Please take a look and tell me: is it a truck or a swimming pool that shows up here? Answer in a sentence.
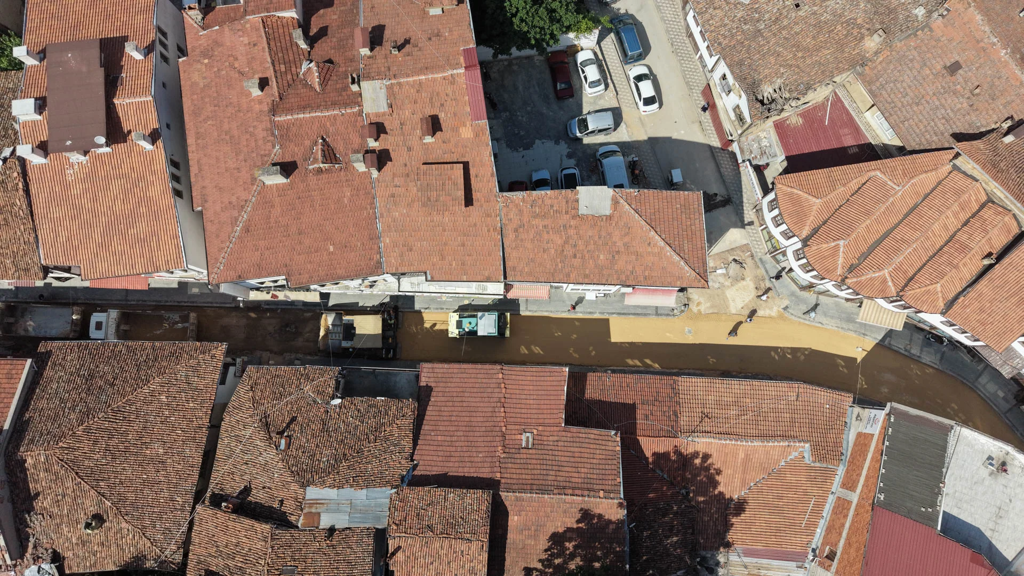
This aerial view contains a truck.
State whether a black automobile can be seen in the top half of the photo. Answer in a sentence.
Yes, I can see a black automobile in the top half of the photo.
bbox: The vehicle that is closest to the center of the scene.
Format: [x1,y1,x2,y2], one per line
[447,311,511,337]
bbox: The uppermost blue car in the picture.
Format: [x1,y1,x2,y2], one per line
[614,15,644,64]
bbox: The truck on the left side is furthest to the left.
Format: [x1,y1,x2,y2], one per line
[0,302,91,336]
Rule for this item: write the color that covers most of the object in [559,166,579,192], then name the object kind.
black car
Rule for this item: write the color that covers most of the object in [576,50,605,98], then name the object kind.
white car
